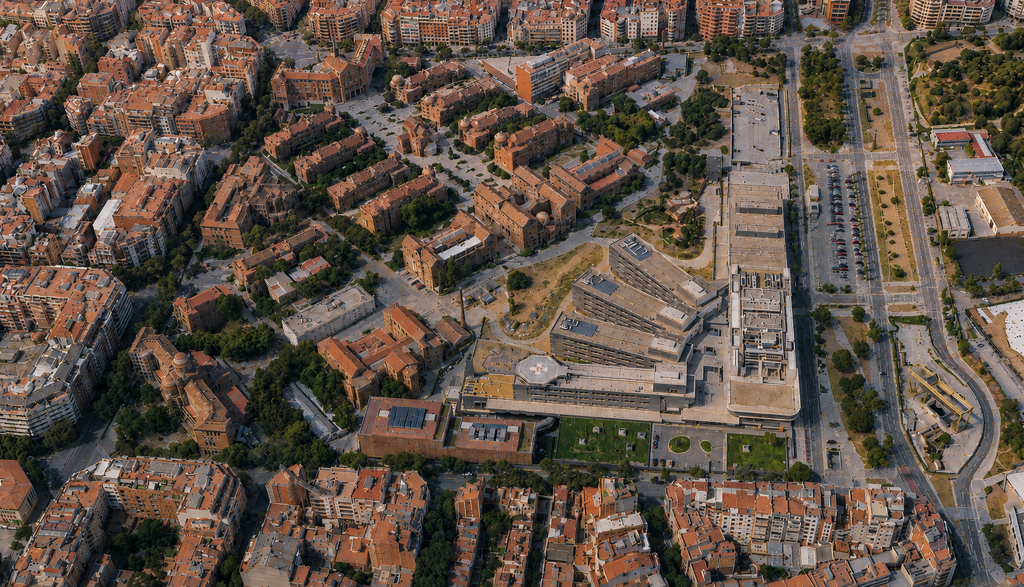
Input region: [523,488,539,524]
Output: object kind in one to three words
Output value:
house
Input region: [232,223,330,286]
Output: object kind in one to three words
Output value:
building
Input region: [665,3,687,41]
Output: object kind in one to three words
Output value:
building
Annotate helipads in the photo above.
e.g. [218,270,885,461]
[513,351,564,387]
